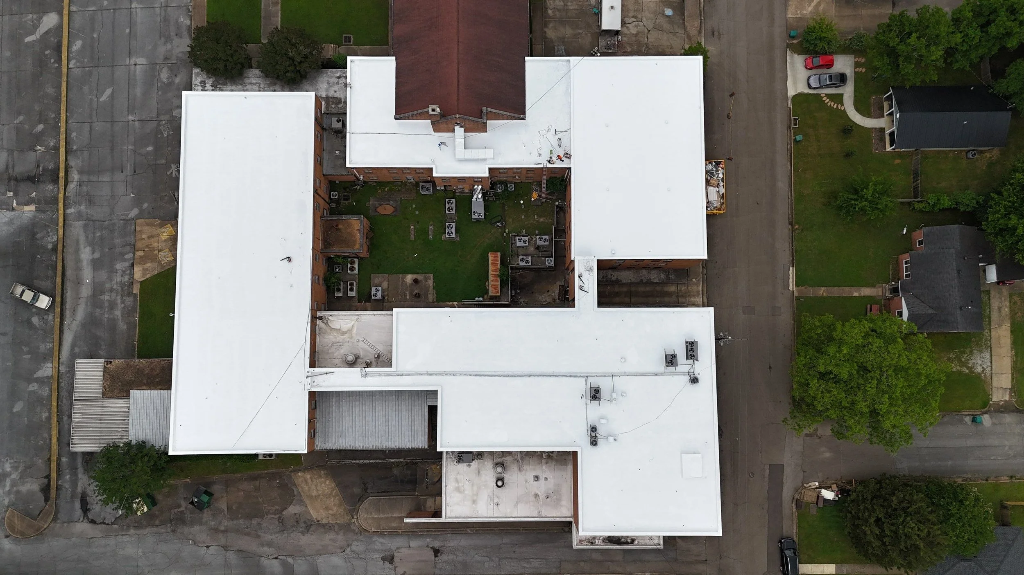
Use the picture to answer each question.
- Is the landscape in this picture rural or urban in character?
urban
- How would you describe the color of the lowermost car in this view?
black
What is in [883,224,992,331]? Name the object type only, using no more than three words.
house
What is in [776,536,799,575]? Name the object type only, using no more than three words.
car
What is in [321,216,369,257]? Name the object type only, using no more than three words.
shed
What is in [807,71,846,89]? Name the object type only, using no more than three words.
car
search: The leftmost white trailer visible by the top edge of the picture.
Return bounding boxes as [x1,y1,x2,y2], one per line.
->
[599,0,621,38]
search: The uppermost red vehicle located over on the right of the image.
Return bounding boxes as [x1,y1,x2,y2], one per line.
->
[802,53,834,71]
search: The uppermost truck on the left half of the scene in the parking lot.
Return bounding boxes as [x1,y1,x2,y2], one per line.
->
[10,282,54,309]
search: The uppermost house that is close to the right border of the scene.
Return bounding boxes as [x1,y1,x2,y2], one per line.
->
[882,86,1012,153]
